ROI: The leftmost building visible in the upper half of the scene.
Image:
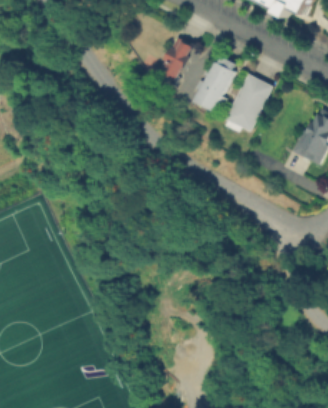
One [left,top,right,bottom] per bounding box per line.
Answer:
[160,36,190,78]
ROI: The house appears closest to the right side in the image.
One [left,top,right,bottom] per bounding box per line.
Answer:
[294,106,328,166]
